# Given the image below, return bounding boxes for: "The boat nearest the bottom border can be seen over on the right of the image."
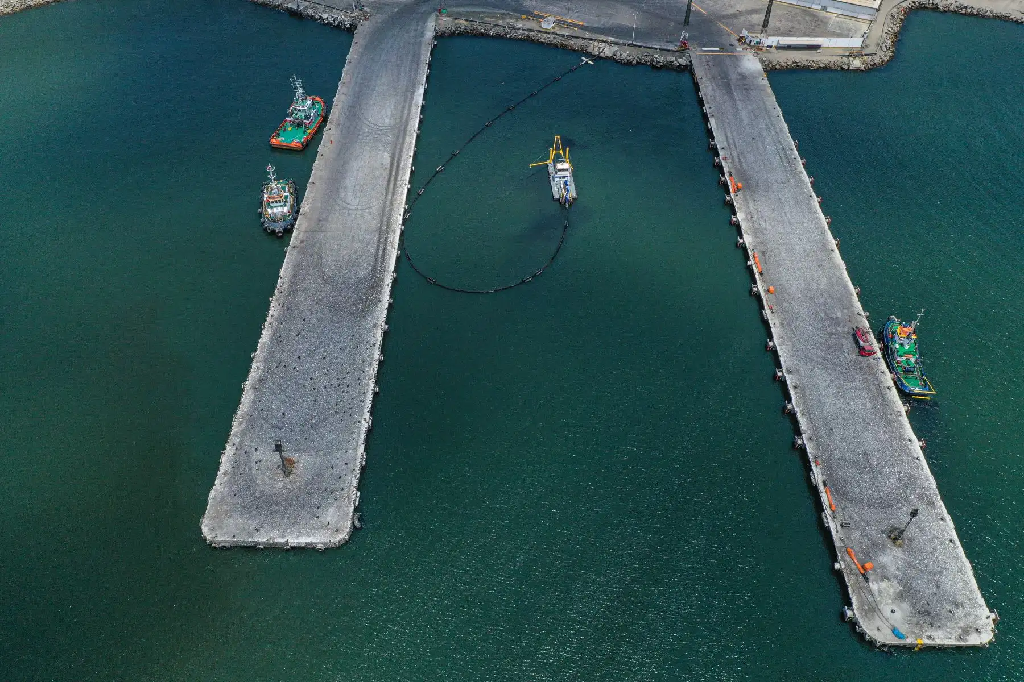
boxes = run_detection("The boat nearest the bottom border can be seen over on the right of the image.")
[882,305,939,407]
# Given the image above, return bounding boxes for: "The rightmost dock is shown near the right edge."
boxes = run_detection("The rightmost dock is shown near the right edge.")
[691,52,997,646]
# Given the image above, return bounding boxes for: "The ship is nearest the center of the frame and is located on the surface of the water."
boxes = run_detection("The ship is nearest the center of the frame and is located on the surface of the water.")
[528,134,578,213]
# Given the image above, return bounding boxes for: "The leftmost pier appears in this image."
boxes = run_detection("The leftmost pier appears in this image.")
[201,19,434,548]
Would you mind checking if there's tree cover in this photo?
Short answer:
No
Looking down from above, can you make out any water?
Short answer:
Yes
